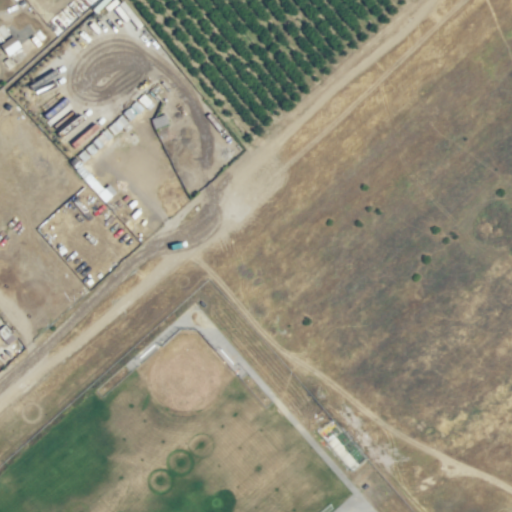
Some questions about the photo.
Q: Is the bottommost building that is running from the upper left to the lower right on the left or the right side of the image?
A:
right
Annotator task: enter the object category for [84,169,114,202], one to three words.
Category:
building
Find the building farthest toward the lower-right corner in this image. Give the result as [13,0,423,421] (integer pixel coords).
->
[330,436,360,471]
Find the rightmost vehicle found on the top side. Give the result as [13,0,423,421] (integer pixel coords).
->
[205,113,231,140]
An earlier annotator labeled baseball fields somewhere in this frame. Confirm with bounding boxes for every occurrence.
[0,329,351,512]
